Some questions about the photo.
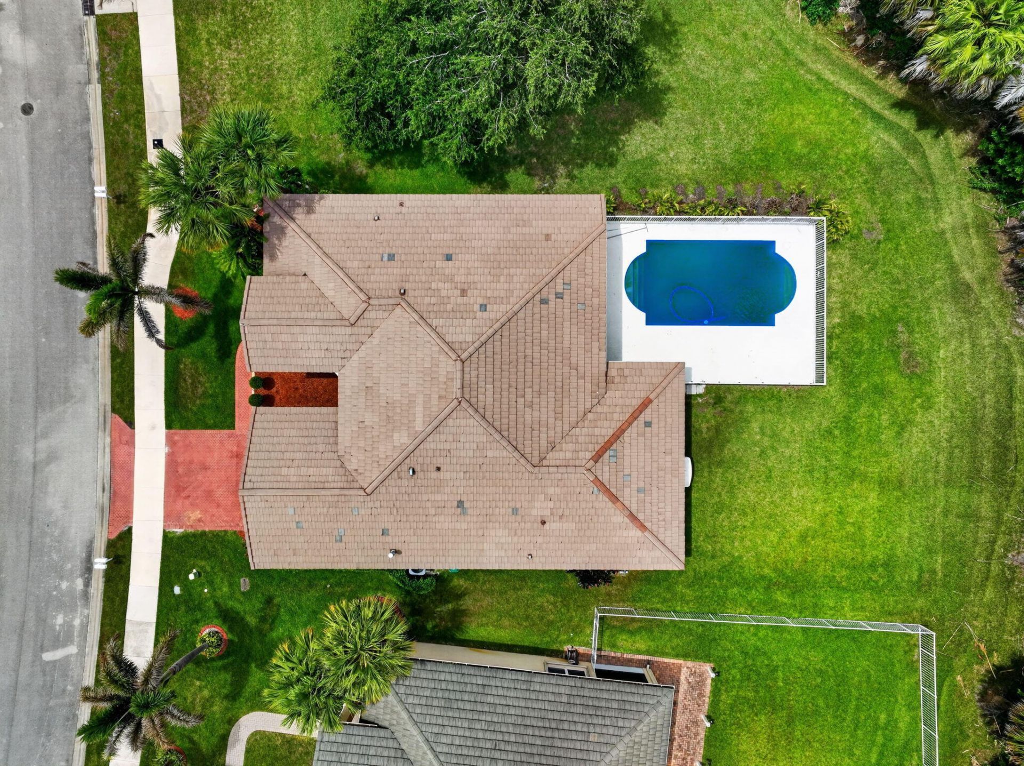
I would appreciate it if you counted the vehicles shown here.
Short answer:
0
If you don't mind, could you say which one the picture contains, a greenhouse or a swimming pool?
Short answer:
swimming pool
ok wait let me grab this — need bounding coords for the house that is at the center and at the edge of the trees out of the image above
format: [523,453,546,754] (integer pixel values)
[233,193,691,571]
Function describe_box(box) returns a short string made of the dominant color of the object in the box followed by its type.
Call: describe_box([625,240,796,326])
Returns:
blue swimming pool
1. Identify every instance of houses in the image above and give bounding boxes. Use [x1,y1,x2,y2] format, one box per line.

[312,641,675,766]
[233,193,691,571]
